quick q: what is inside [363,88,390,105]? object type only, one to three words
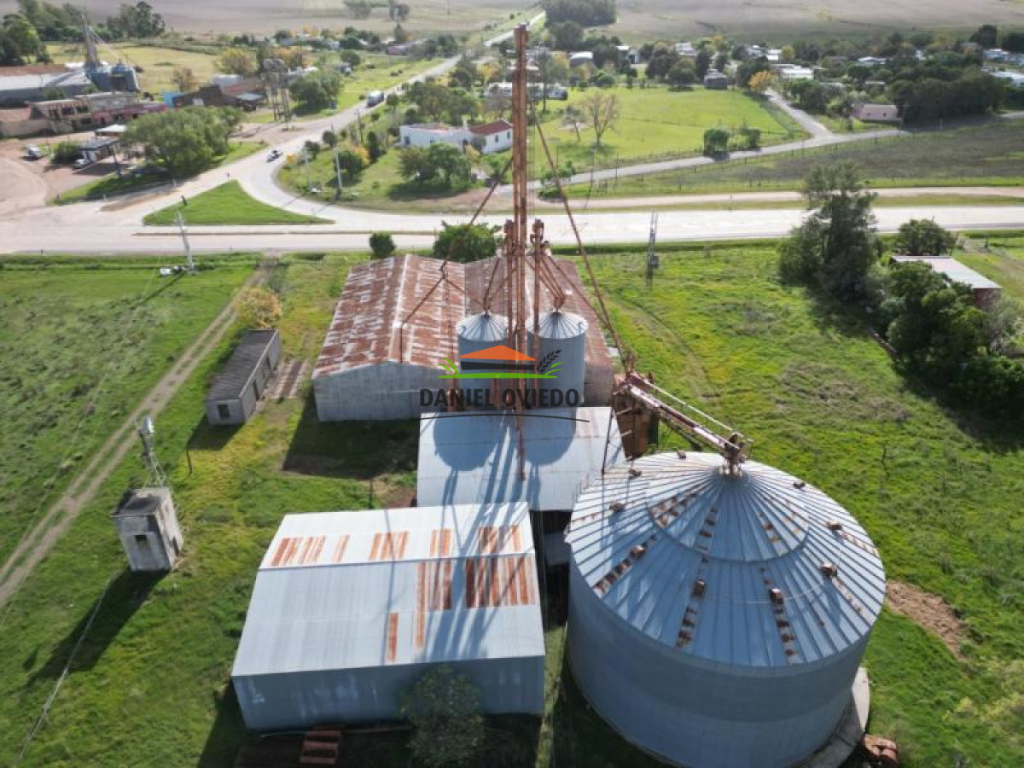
vehicle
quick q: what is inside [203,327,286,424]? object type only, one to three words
shed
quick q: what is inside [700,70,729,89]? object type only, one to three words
house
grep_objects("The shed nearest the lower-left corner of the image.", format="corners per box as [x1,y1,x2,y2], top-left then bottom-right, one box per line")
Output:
[111,489,184,569]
